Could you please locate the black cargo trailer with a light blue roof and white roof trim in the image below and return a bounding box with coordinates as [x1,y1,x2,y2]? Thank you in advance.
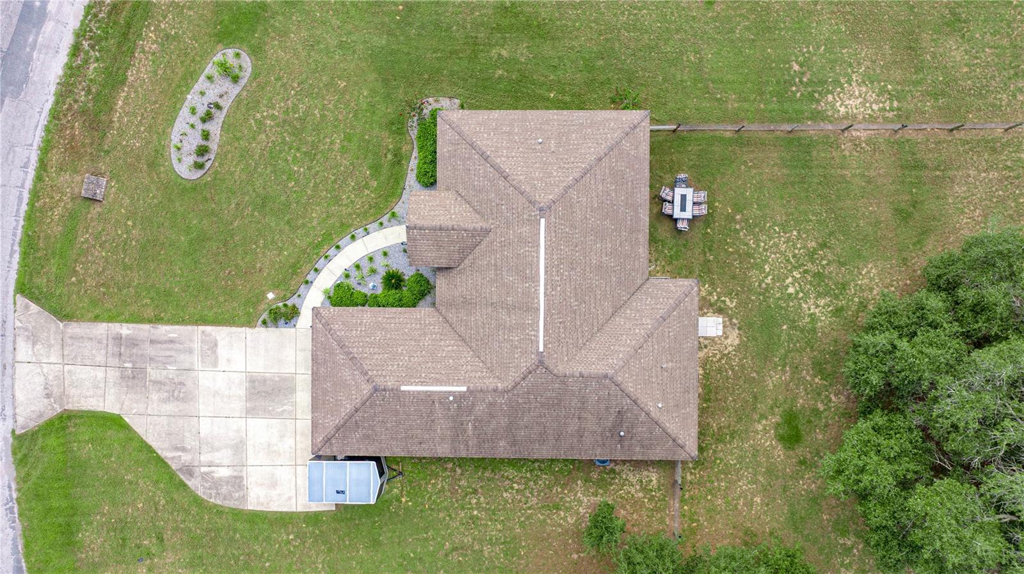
[307,455,404,504]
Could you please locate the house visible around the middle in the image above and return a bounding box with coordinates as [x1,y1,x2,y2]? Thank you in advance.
[311,109,699,461]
